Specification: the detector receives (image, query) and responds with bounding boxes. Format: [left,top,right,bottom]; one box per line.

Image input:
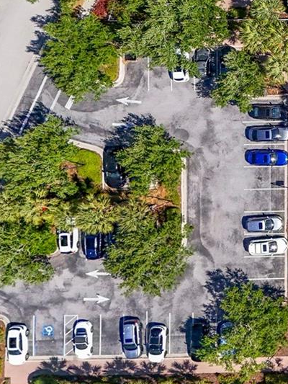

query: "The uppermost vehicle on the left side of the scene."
[101,145,124,187]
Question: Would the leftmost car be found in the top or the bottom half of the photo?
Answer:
bottom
